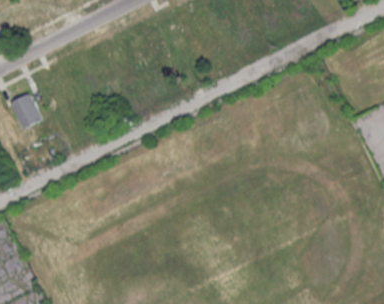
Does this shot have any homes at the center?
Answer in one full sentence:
No, there's no home to be seen at the center.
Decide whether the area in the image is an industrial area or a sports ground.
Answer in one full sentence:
What you see here is a sports ground.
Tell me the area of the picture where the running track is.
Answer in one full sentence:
The running track is in the bottom part of the image.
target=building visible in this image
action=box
[12,94,44,129]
